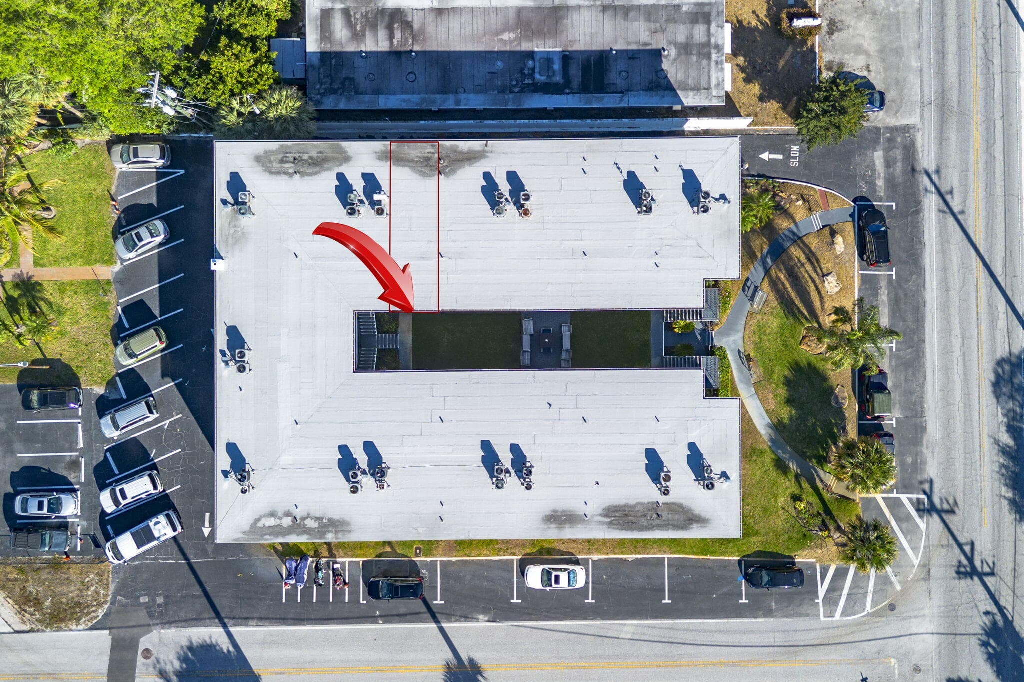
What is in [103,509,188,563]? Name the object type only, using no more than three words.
van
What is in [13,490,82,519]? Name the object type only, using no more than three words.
car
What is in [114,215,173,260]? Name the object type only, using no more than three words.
car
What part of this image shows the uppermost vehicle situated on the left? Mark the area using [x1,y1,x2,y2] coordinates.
[110,140,174,170]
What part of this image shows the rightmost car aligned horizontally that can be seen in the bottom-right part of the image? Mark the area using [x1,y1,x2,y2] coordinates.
[744,562,805,591]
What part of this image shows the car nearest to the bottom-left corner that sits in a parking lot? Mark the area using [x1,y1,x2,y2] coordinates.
[4,526,76,555]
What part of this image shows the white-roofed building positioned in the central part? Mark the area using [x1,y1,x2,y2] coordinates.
[214,137,742,543]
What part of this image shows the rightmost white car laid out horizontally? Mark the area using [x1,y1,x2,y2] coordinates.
[524,562,587,591]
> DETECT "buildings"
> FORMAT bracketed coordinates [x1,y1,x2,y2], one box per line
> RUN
[214,137,742,543]
[306,0,731,114]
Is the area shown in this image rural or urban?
urban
